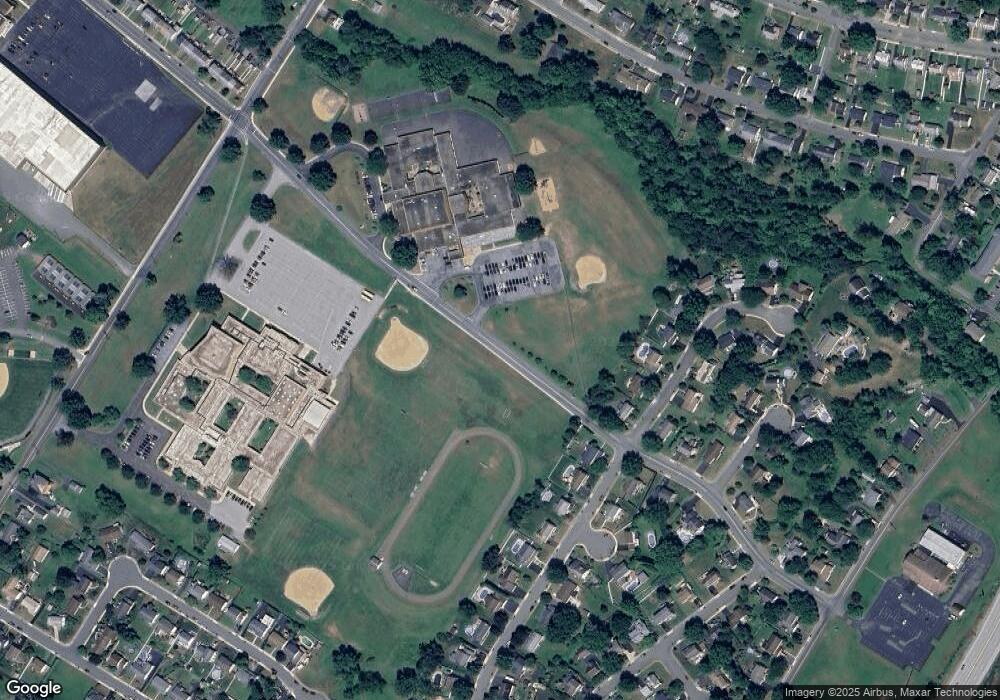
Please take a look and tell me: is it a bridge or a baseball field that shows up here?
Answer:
baseball field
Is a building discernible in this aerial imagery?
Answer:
Yes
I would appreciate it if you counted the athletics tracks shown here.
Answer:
1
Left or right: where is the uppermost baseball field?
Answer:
left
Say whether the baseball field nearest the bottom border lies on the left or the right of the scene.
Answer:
left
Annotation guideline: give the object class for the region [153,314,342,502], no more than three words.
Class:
building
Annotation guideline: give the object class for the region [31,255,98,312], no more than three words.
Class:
building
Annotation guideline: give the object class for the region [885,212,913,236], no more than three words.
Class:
house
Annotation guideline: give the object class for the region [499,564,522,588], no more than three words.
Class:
house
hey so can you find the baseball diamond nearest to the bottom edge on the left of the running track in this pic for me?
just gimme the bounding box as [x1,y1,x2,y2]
[284,566,334,620]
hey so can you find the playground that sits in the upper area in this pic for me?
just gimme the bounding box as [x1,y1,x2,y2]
[537,178,559,211]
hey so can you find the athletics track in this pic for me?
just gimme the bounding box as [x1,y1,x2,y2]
[381,422,525,604]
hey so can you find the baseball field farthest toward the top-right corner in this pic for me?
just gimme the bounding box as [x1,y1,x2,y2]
[572,255,607,293]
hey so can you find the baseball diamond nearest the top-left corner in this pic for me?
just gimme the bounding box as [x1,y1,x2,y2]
[312,78,348,121]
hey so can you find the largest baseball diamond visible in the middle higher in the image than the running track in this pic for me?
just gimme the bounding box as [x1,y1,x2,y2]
[376,307,430,373]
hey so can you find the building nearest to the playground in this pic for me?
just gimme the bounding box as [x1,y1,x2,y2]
[382,129,523,265]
